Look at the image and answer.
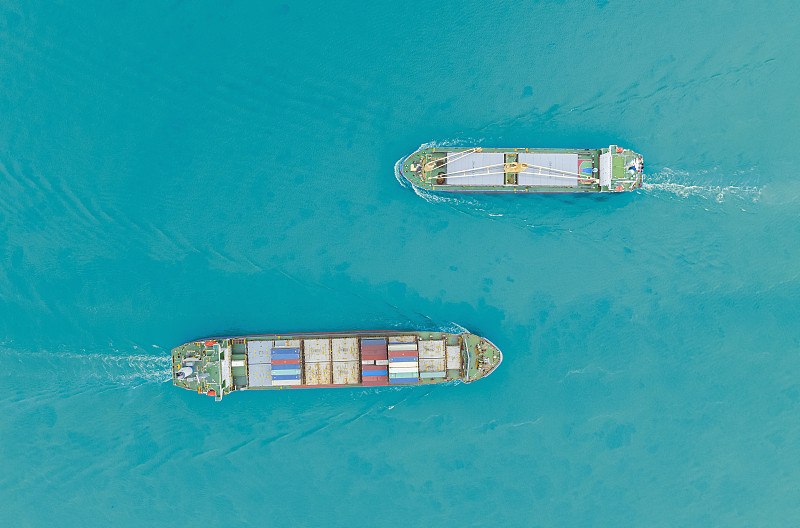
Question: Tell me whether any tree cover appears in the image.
No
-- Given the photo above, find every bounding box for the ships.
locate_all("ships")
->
[171,330,503,401]
[401,144,645,194]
